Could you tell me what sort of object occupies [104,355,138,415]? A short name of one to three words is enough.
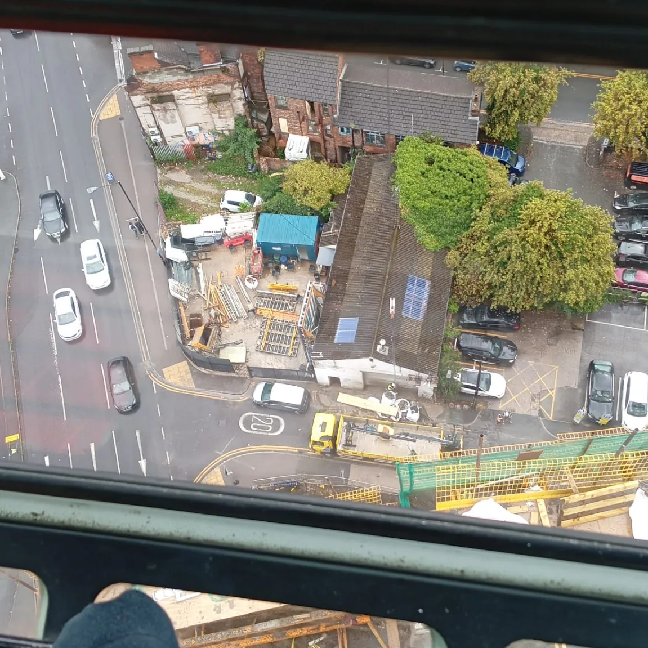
car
